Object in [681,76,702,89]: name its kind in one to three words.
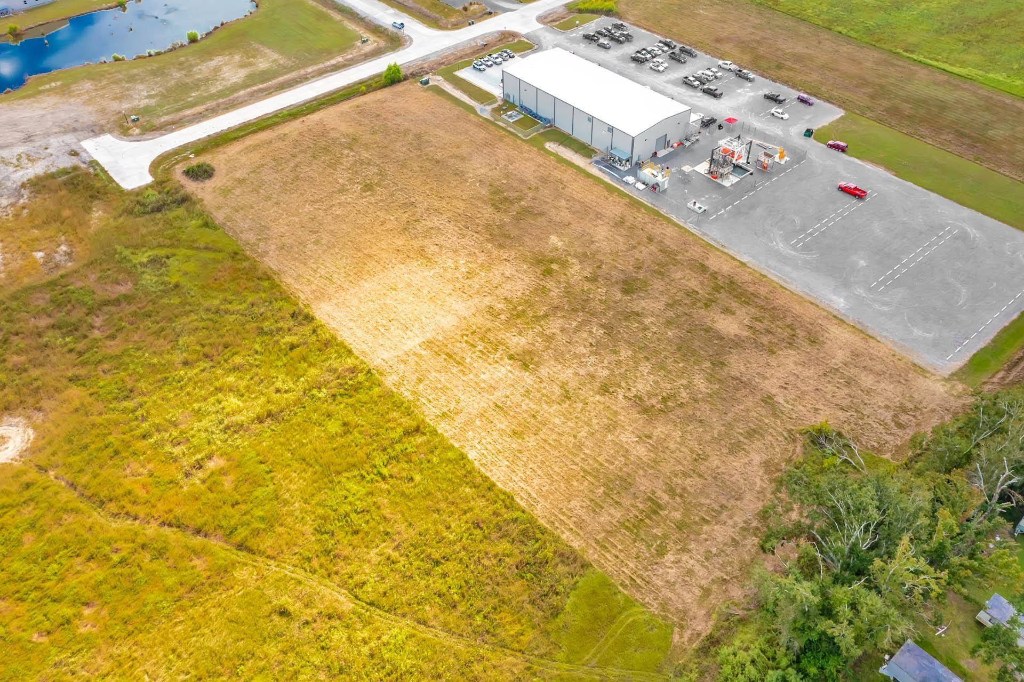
vehicle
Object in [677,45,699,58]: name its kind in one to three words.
vehicle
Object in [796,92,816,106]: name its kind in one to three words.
car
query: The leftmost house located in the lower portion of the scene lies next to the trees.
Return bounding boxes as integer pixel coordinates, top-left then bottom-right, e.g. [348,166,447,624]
[886,640,964,682]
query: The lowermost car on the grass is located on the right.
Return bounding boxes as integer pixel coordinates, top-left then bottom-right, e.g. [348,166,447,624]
[826,140,849,153]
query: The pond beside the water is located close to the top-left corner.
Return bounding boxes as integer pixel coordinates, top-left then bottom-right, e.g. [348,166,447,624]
[0,0,258,95]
